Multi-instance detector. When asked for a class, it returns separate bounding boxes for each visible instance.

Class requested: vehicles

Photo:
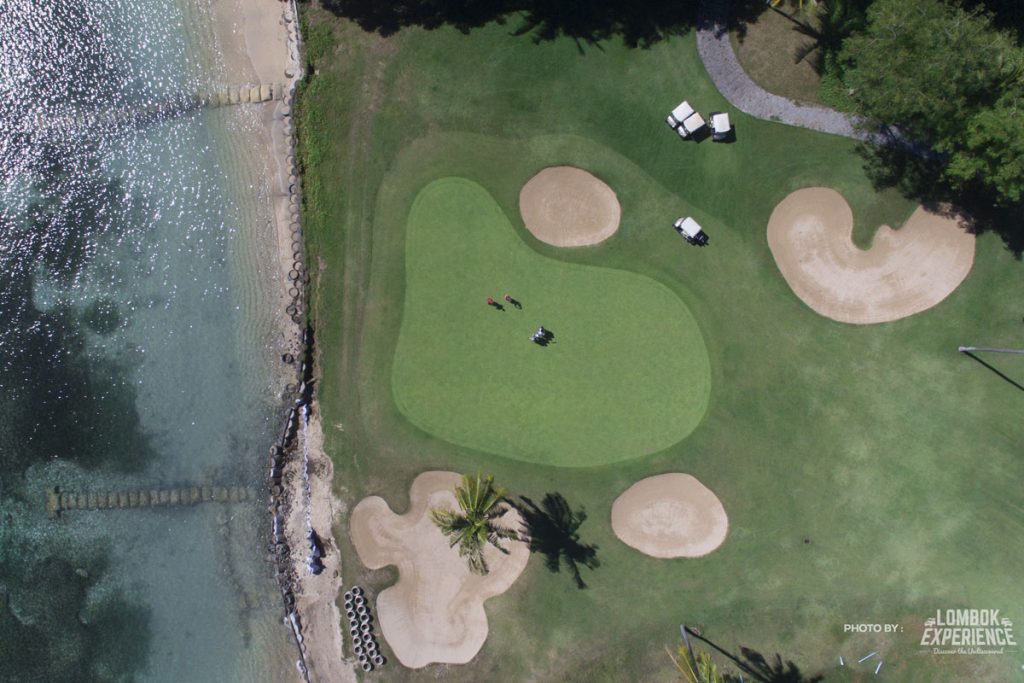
[675,112,705,142]
[672,216,704,243]
[707,113,730,143]
[664,101,694,131]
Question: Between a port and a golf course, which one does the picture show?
golf course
